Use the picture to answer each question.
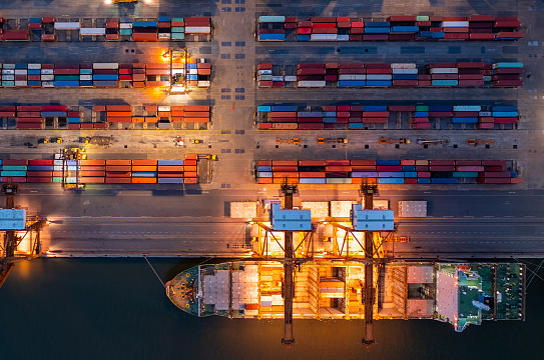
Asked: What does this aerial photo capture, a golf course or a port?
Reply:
port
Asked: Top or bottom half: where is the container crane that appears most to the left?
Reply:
bottom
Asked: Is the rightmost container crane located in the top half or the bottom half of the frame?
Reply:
bottom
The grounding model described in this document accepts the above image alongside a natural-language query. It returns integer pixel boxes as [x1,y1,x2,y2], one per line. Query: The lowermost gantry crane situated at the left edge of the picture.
[0,176,49,297]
